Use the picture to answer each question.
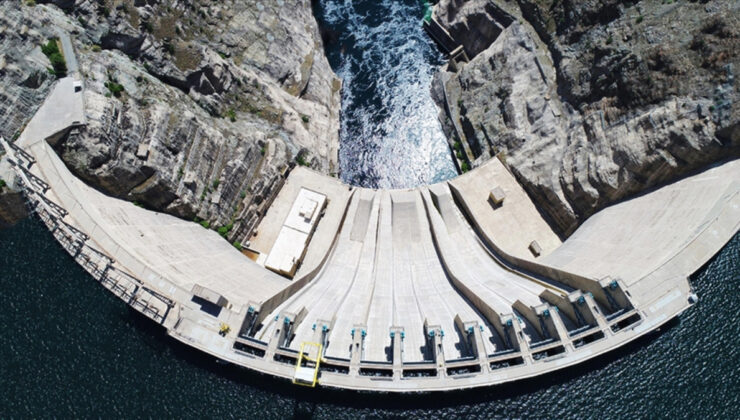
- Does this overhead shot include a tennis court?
No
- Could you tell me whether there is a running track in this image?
No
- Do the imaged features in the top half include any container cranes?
No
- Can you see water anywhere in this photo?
Yes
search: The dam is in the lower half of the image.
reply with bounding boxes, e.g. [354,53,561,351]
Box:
[0,126,740,393]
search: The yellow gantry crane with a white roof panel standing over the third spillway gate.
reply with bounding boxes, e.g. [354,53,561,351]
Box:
[293,342,326,388]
